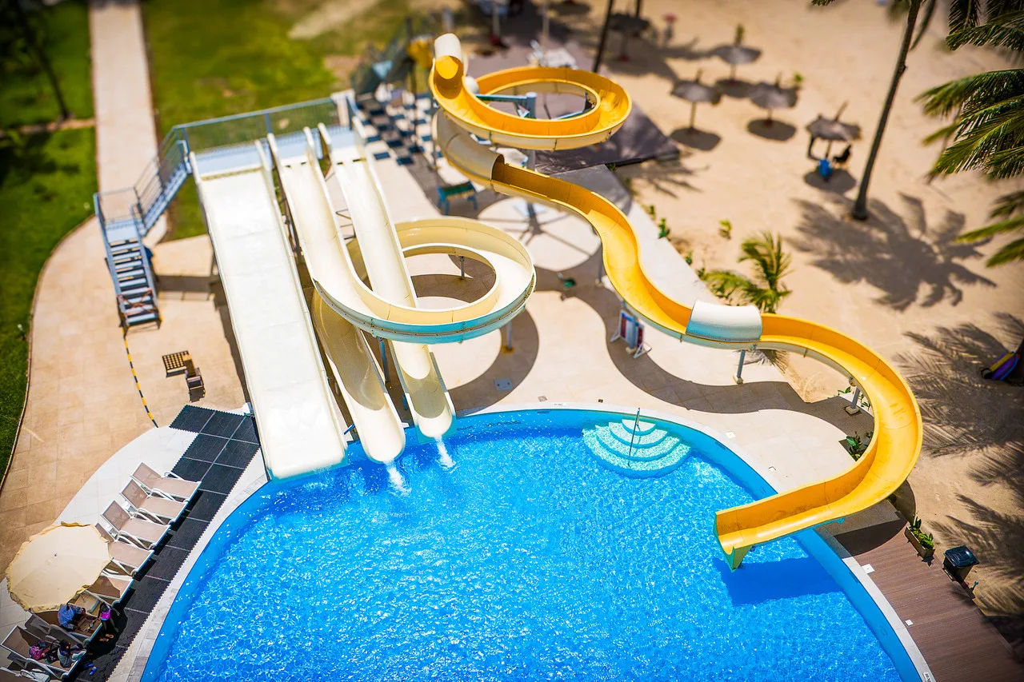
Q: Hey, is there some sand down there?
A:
Yes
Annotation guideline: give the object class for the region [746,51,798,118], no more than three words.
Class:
umbrella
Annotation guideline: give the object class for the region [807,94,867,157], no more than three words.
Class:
umbrella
